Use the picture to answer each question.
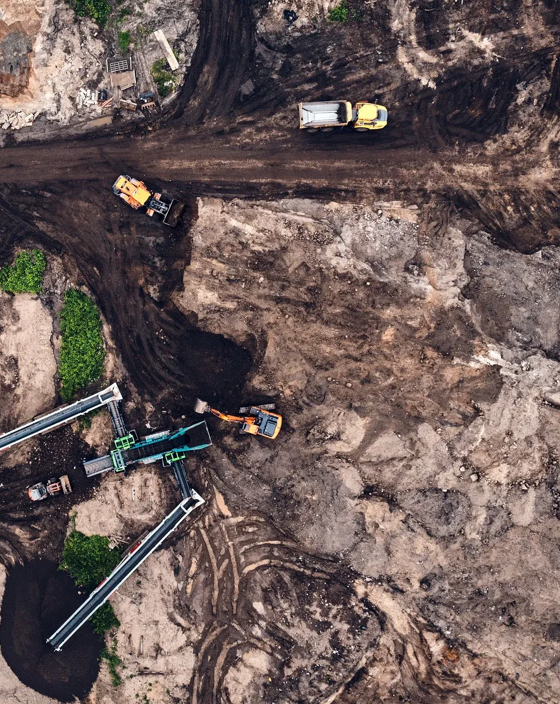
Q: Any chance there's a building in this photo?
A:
No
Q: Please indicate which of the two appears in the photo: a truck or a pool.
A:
truck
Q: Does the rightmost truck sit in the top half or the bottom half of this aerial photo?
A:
top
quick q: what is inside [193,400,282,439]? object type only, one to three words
work vehicle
